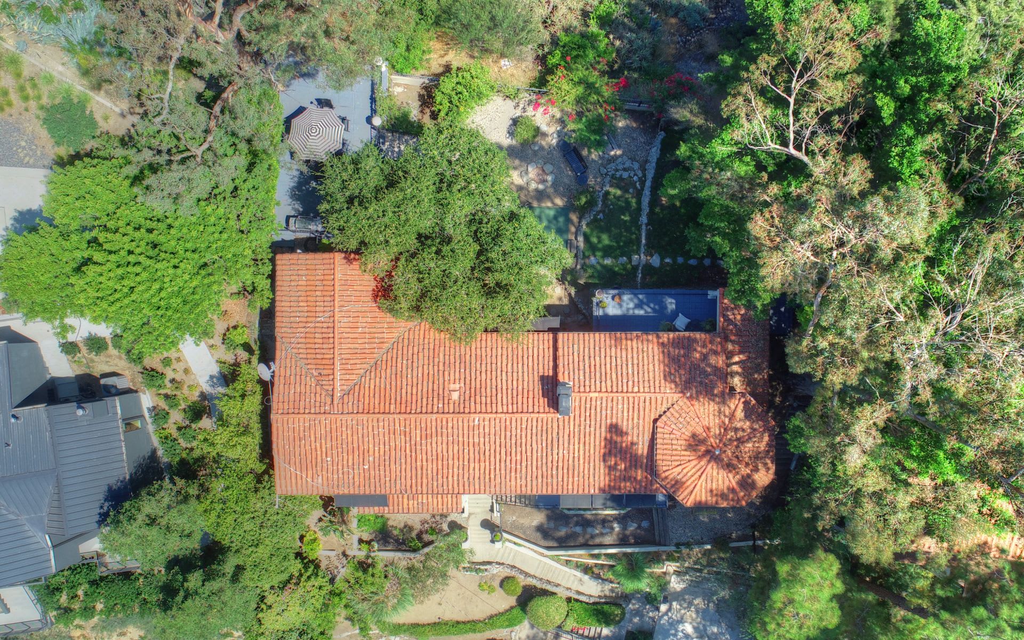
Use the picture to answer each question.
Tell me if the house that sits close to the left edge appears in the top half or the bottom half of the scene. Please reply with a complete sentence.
You can find the house that sits close to the left edge in the bottom half.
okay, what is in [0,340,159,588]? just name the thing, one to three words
house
